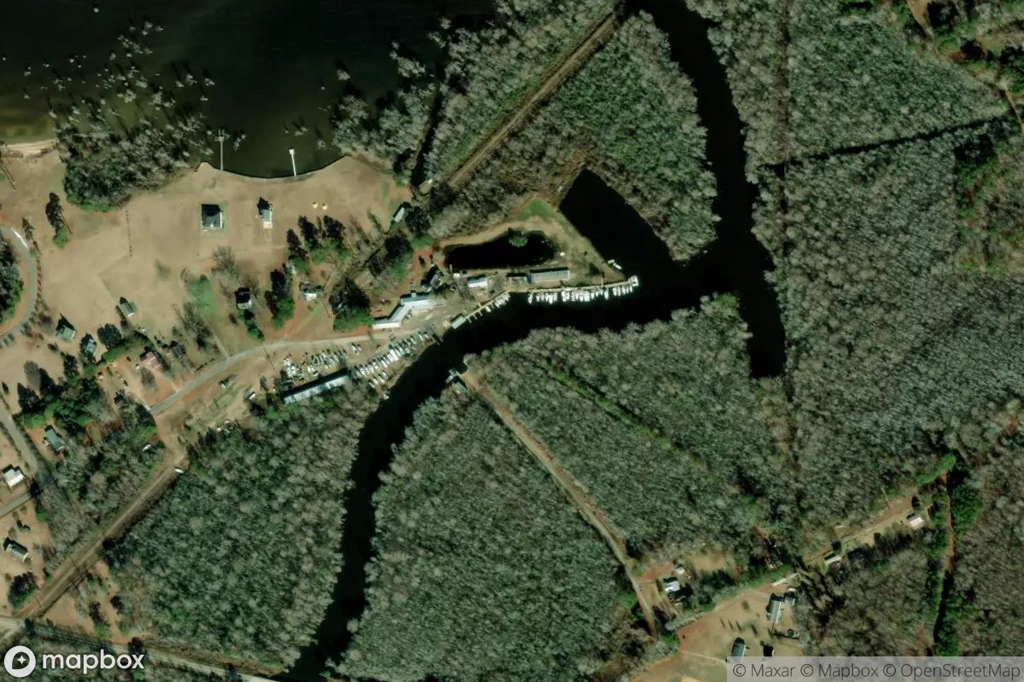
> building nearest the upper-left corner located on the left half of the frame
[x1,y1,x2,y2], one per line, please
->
[203,209,222,228]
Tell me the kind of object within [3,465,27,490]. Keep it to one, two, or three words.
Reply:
house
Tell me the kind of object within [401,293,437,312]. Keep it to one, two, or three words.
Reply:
building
